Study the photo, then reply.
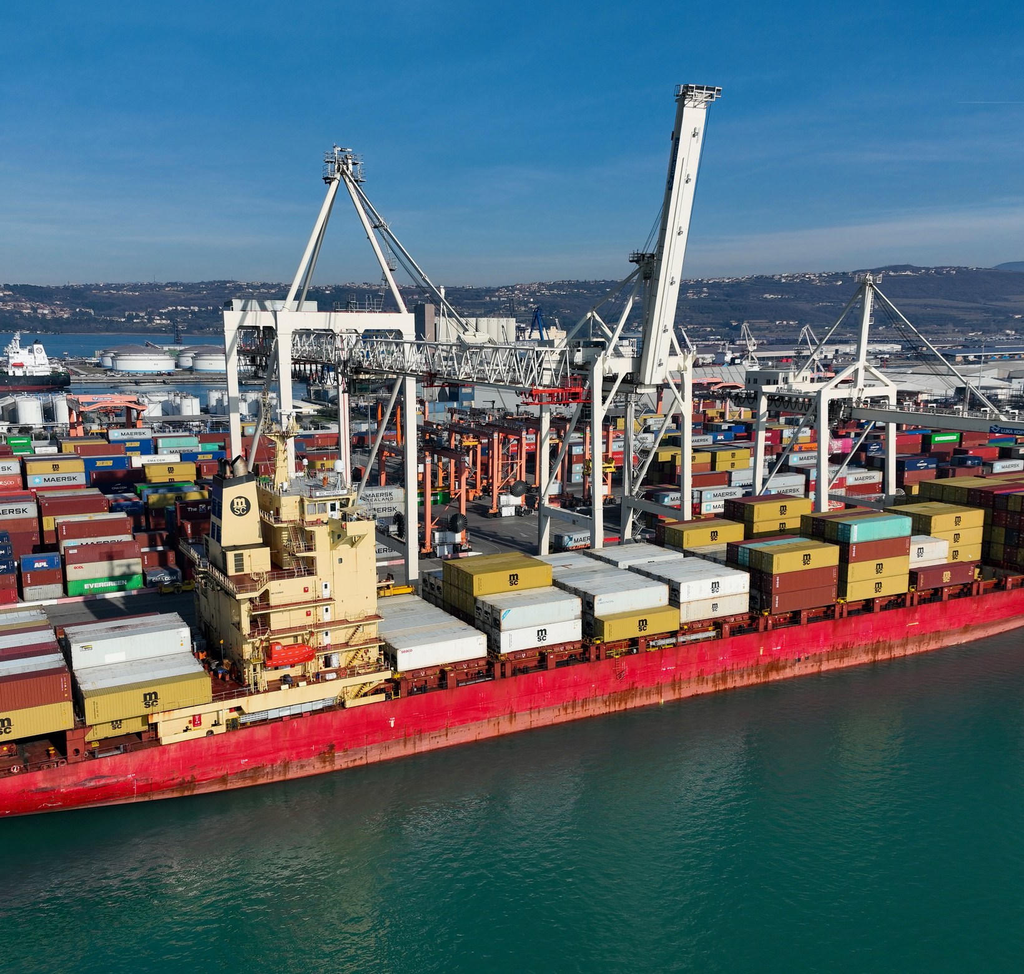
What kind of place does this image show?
port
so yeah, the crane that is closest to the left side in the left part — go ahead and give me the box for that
[68,395,140,439]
